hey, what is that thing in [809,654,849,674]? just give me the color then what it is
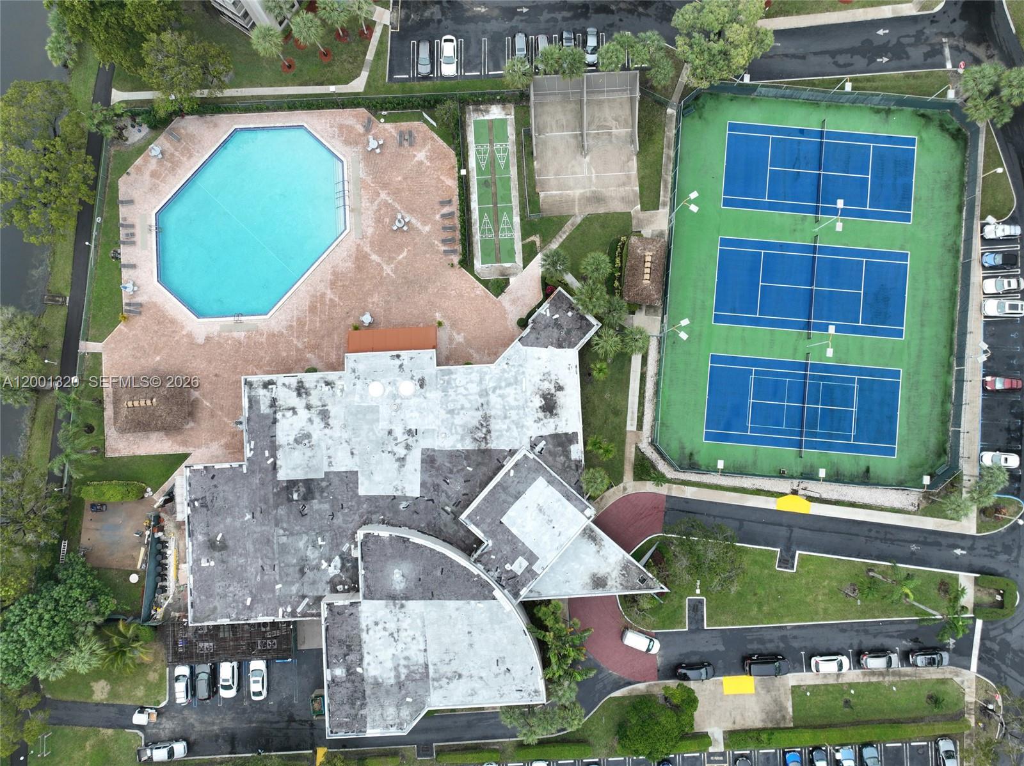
white car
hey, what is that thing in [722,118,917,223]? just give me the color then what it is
blue tennis court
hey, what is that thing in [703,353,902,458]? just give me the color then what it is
blue tennis court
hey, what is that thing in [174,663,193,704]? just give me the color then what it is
white vehicle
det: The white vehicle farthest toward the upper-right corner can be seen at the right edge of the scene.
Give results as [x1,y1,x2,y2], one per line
[981,221,1022,240]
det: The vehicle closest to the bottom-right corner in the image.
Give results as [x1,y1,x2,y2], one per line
[934,735,956,766]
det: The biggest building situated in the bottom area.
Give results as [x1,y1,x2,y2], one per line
[185,287,670,739]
